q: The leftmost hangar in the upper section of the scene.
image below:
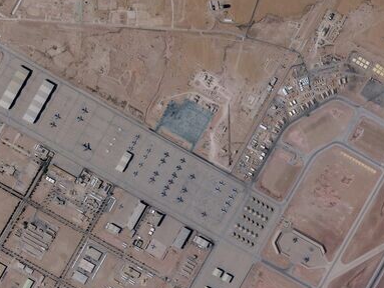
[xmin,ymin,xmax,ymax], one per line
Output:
[0,67,29,108]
